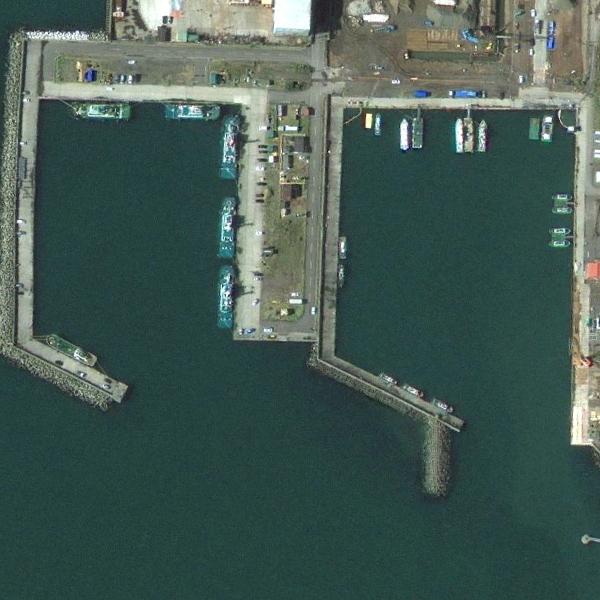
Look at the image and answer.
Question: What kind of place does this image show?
port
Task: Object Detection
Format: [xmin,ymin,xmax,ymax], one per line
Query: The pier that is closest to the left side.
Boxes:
[0,29,128,411]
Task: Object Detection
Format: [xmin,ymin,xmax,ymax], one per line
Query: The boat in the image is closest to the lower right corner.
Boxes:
[432,399,452,412]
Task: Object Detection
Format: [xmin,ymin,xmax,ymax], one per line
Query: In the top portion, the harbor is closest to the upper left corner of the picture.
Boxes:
[33,81,318,385]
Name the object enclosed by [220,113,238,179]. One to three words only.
boat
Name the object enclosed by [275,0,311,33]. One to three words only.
building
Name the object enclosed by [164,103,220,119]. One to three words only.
boat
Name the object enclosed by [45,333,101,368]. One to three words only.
ship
